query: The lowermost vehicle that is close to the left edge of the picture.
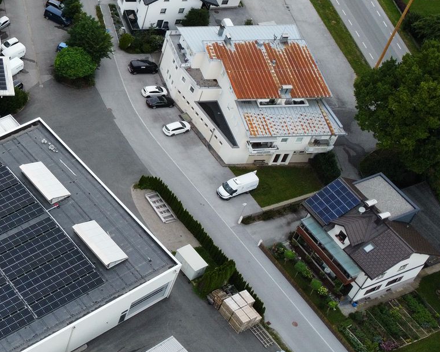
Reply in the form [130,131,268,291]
[13,76,30,89]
